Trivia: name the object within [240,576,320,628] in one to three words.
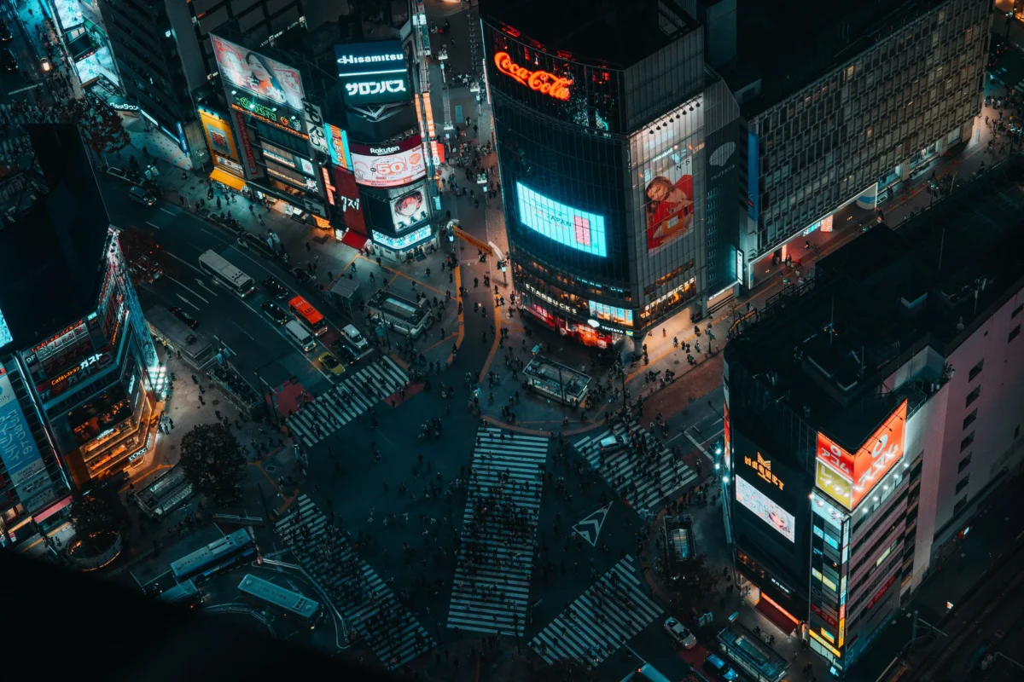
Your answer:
bus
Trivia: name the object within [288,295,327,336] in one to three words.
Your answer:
vehicle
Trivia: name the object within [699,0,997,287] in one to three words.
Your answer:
building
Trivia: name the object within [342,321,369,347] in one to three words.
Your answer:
car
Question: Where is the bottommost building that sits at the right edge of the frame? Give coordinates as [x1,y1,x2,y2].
[719,183,1024,670]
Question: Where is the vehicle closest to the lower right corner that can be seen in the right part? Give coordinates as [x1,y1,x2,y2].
[706,652,737,681]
